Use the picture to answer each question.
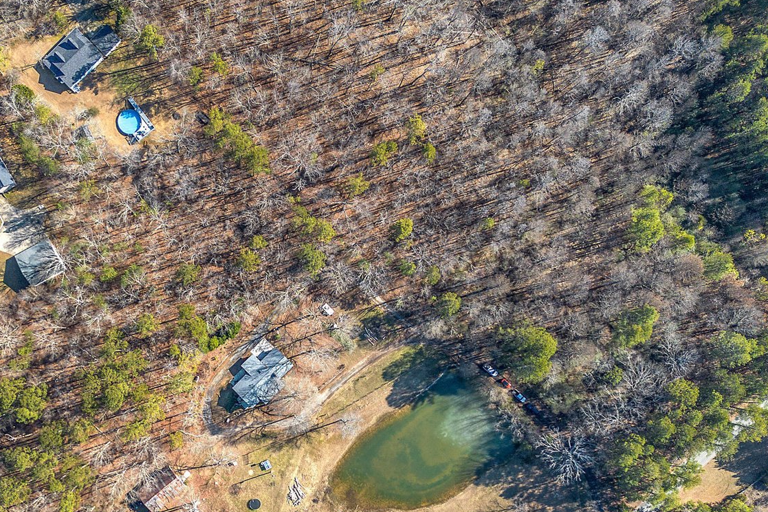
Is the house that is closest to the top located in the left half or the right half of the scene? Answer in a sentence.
The house that is closest to the top is on the left side of the image.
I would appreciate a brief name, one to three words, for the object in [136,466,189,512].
barn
